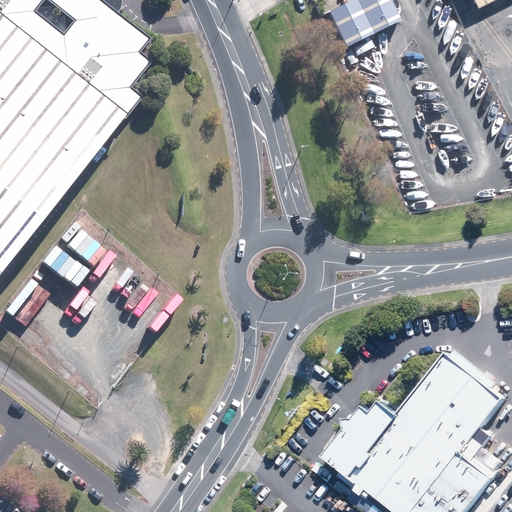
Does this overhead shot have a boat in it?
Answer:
Yes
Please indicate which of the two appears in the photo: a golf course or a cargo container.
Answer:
cargo container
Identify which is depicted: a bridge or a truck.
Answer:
truck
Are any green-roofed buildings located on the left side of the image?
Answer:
No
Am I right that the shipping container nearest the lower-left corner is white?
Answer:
Yes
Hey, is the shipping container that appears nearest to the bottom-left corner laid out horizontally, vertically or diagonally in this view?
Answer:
diagonally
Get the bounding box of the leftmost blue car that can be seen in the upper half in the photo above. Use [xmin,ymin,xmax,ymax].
[94,146,106,162]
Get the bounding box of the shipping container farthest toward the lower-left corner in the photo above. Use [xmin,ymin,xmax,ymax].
[6,278,38,316]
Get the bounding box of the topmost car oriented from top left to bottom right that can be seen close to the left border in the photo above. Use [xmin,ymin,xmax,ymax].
[9,402,25,416]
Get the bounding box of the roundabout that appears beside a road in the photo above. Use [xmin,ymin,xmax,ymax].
[248,245,305,302]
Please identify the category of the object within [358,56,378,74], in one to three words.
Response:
boat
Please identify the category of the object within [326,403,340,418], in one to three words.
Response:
vehicle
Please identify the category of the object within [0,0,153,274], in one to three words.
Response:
warehouse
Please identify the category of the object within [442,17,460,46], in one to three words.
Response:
boat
